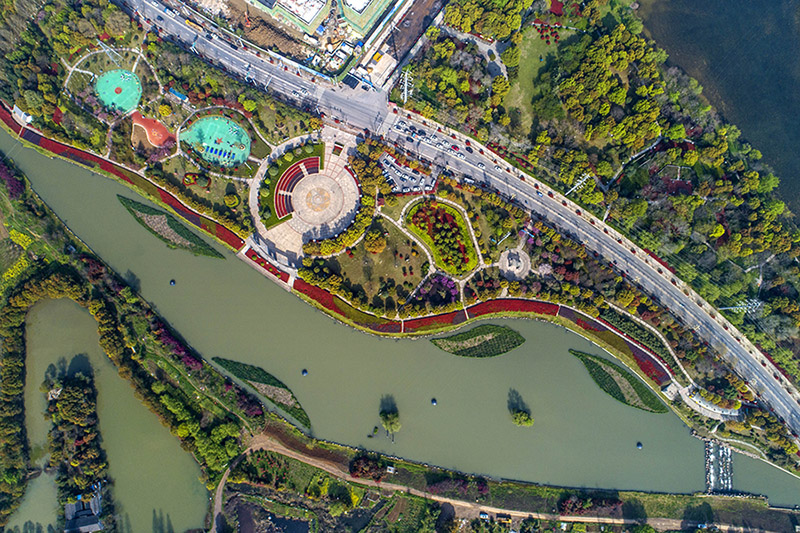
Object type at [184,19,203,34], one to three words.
vehicle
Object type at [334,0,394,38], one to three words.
building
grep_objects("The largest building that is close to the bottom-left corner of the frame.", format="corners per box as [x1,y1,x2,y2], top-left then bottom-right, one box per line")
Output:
[62,495,105,532]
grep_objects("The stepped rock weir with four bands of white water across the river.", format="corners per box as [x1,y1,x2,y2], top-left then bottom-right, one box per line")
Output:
[704,442,734,495]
